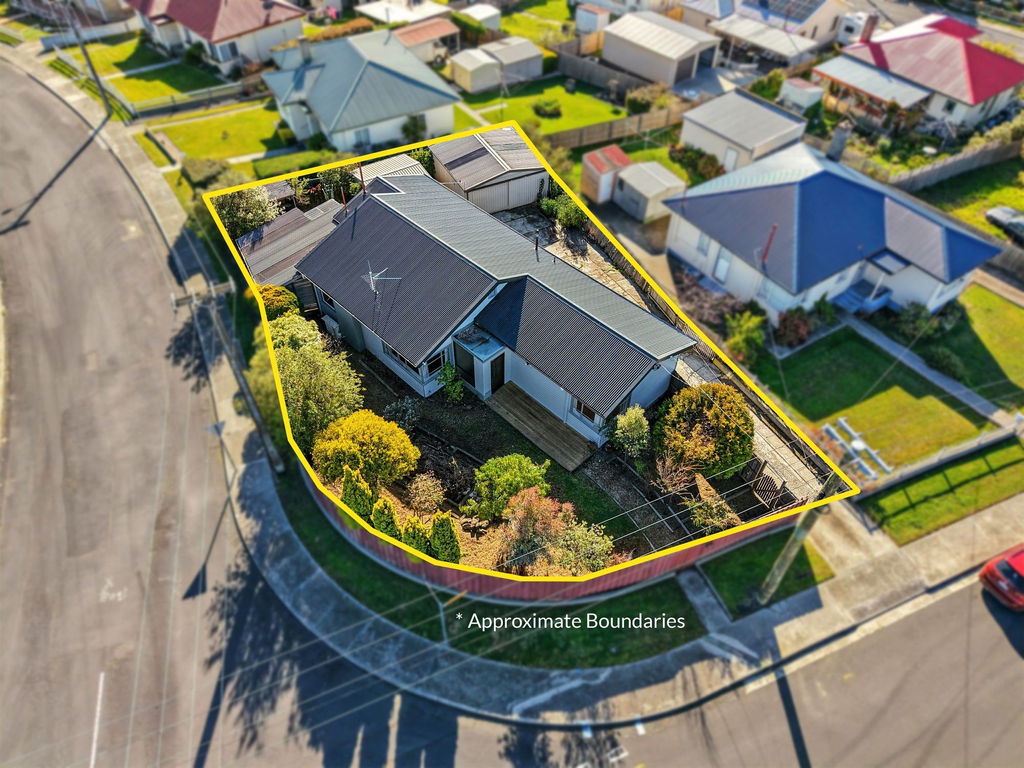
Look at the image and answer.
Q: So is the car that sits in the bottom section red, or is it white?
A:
red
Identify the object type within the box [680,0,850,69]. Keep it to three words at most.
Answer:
house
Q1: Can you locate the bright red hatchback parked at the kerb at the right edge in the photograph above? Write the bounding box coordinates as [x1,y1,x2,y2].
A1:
[975,549,1024,616]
